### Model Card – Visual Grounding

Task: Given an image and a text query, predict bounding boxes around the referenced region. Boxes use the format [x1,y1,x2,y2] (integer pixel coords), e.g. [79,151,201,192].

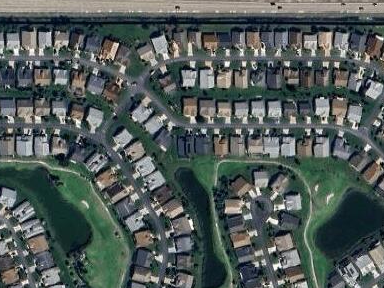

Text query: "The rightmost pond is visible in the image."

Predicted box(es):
[314,189,384,261]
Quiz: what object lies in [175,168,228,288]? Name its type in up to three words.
pond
